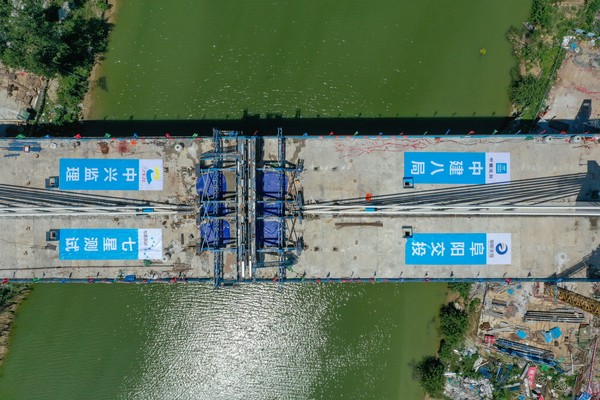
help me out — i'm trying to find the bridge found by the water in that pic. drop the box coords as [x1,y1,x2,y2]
[0,134,600,282]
